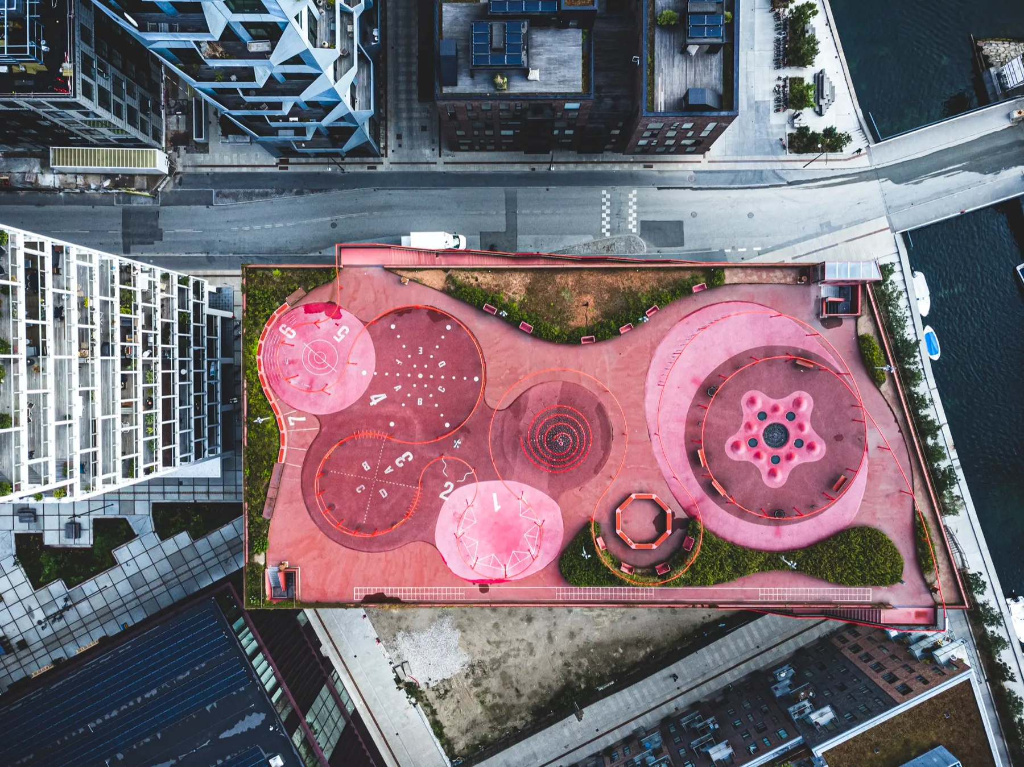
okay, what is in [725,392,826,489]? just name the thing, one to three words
playground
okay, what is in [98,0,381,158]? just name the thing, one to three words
house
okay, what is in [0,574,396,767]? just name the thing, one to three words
building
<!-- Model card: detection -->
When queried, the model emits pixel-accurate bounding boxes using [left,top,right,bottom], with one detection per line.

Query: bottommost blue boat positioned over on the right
[925,326,940,361]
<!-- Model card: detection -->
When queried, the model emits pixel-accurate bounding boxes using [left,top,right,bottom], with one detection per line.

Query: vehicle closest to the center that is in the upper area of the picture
[401,231,467,252]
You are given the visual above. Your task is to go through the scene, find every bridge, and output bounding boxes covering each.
[761,94,1024,233]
